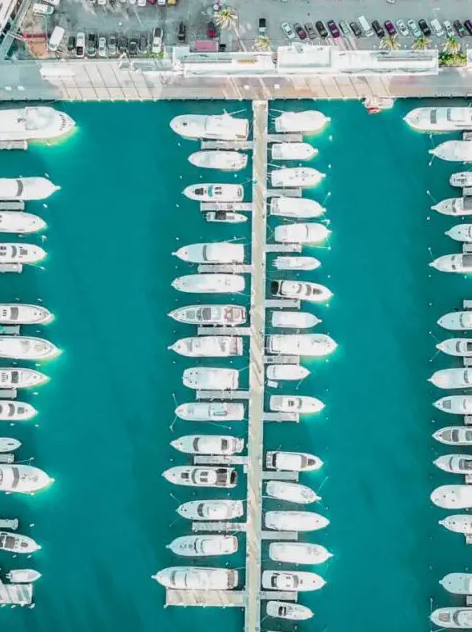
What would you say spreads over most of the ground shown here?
water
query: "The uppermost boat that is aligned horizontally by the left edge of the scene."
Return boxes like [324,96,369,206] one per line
[0,107,75,142]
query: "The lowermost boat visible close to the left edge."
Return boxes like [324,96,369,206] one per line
[10,566,43,583]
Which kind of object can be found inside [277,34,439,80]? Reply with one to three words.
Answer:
building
